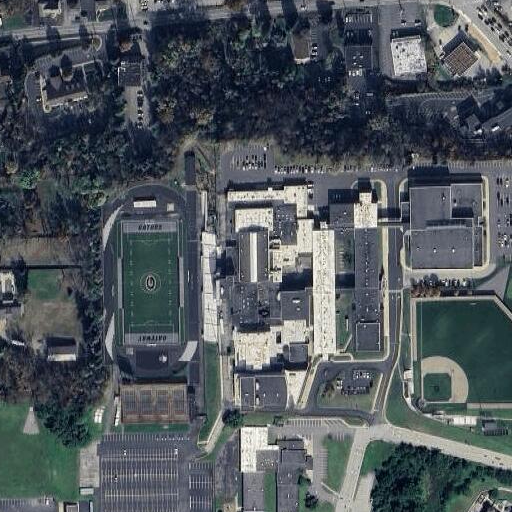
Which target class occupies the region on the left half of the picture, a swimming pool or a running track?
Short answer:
running track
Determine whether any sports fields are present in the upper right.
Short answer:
No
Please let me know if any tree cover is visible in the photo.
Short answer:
Yes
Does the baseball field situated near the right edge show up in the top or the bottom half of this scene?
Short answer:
bottom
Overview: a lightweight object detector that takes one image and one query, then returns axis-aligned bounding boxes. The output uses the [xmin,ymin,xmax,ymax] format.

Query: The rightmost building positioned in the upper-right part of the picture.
[466,102,512,150]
